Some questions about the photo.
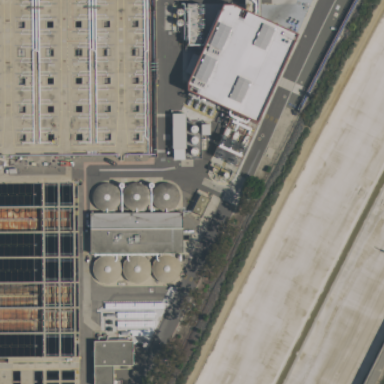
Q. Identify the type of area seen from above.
industrial area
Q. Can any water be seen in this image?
Yes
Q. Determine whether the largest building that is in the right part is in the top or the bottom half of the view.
top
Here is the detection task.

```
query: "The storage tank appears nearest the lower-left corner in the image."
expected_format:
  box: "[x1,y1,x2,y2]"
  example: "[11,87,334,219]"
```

[92,255,122,284]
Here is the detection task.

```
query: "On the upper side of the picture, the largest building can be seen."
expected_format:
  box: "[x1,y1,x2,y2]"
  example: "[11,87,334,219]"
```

[188,4,298,121]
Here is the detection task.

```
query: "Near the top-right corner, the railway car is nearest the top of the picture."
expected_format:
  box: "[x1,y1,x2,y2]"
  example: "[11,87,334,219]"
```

[346,0,361,20]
